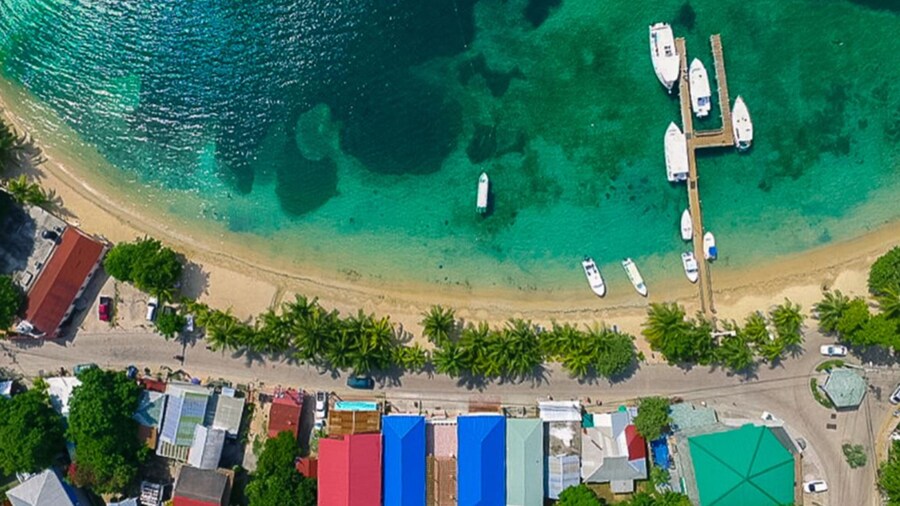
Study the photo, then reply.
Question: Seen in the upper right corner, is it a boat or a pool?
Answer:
boat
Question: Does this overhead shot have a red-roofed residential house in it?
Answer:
Yes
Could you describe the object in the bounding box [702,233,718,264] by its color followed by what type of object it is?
white boat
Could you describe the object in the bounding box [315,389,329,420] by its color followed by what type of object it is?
white vehicle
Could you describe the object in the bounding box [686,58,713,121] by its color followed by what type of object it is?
white boat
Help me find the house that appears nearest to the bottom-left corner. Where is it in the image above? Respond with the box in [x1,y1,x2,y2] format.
[5,464,87,506]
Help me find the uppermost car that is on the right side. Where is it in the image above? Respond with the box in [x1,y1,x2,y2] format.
[817,343,846,357]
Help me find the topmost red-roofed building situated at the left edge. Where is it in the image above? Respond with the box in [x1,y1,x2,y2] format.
[19,227,106,338]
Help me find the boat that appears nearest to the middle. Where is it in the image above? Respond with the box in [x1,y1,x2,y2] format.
[476,174,489,215]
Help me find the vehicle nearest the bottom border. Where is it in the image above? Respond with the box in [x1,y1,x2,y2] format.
[802,478,829,494]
